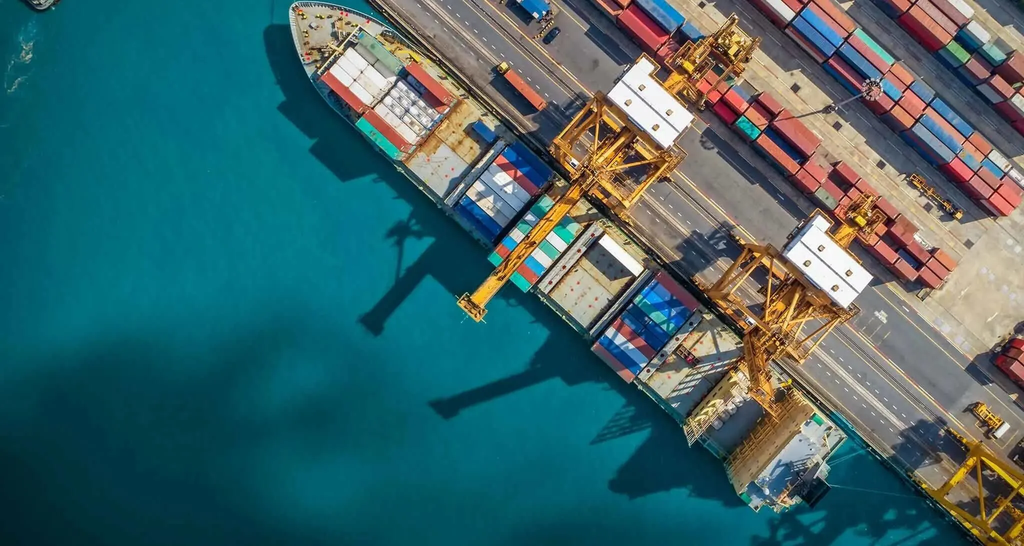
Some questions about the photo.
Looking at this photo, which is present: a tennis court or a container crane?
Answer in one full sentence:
Visible in the photo is a container crane.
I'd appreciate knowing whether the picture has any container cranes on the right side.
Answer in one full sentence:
Yes, I can see a container crane on the right side.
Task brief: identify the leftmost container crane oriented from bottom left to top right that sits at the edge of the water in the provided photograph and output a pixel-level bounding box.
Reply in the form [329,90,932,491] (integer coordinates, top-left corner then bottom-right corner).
[448,34,719,333]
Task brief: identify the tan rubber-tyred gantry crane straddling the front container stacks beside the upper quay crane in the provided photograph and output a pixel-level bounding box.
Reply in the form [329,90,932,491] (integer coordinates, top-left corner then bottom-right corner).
[680,11,763,116]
